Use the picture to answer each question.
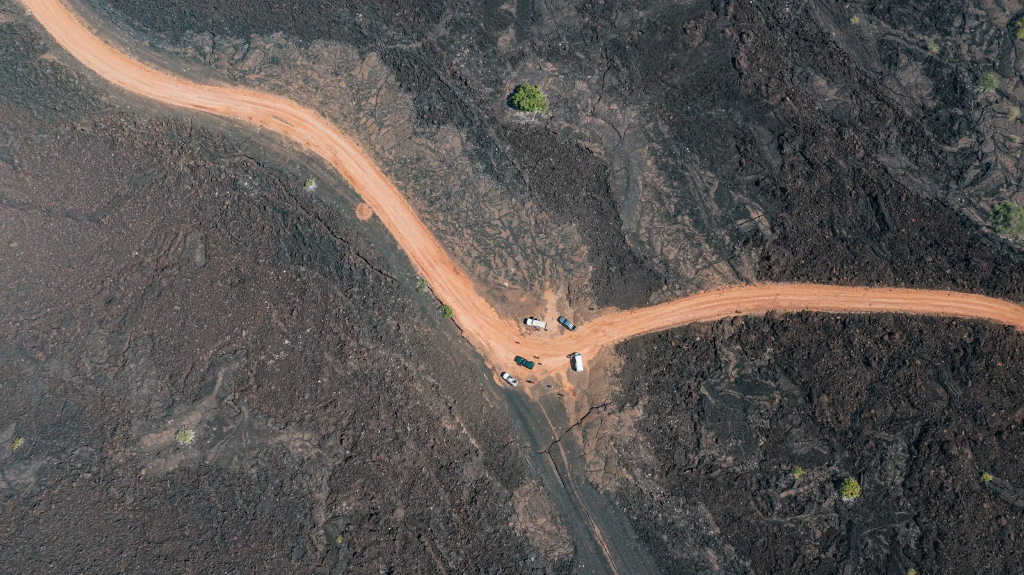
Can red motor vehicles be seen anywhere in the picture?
No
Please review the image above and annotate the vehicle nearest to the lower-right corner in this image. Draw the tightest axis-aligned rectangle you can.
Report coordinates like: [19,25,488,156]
[570,352,582,372]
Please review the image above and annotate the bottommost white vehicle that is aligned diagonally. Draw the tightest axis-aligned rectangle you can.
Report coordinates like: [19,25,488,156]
[502,371,519,387]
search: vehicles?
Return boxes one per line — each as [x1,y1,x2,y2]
[526,319,547,330]
[516,356,535,370]
[570,352,582,372]
[502,371,519,387]
[558,315,578,332]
